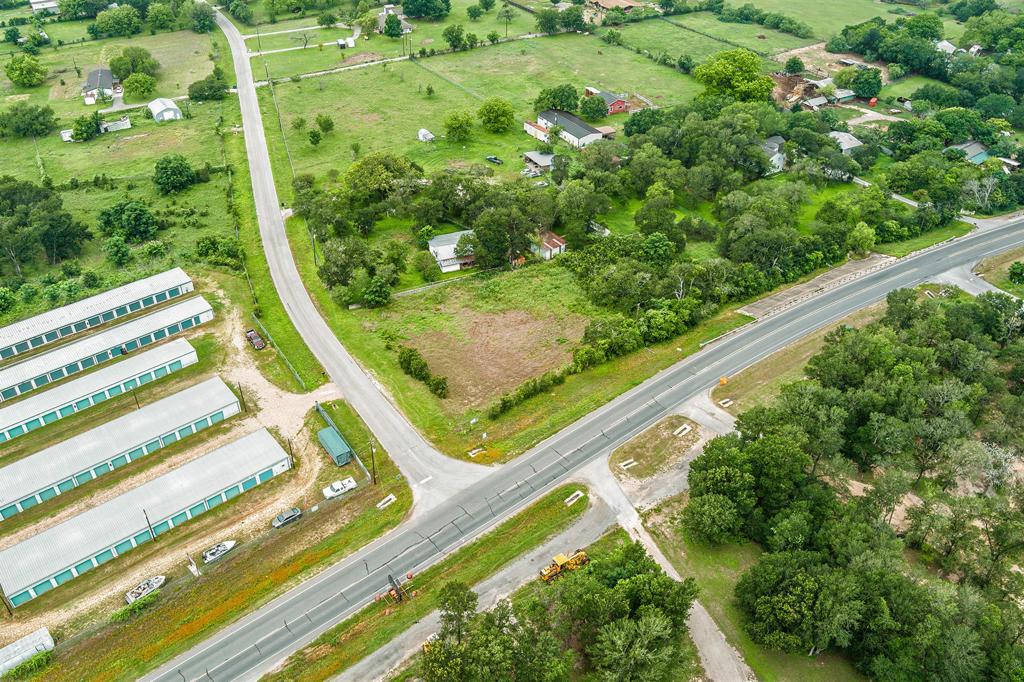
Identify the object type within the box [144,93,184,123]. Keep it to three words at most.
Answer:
shed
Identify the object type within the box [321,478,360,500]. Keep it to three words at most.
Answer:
truck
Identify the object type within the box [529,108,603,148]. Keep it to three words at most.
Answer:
building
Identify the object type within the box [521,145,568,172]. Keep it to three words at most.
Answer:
house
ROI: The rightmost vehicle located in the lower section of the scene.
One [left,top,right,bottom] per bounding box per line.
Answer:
[544,554,595,587]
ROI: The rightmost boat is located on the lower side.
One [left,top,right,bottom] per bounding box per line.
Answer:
[198,538,241,563]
